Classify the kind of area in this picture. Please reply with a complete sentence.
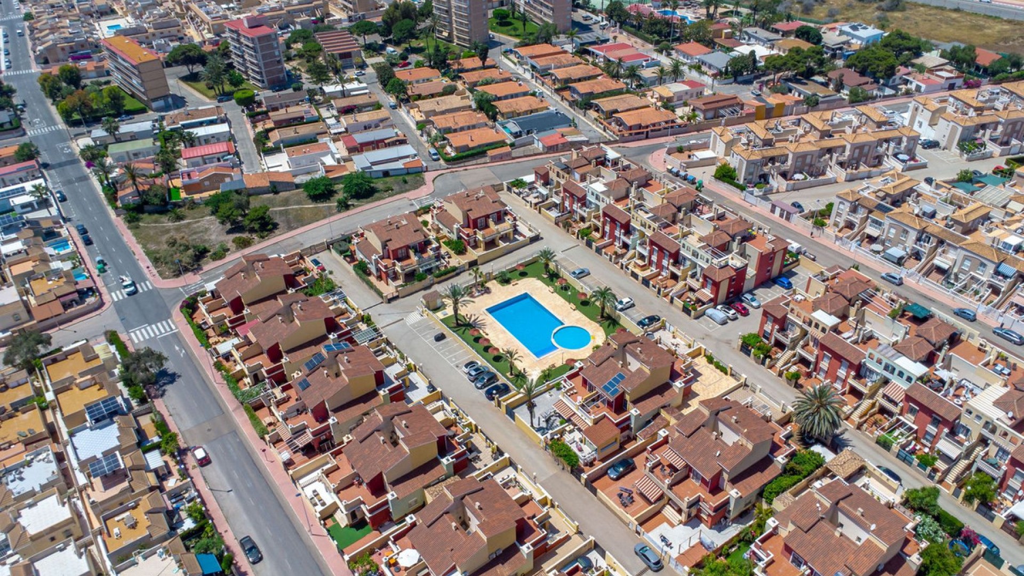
The area seen from above is a residential area.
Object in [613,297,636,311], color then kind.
white car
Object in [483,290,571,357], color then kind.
blue swimming pool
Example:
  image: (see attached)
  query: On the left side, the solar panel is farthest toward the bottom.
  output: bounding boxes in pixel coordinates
[90,453,121,477]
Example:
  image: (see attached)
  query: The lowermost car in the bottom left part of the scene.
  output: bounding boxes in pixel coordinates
[238,535,263,565]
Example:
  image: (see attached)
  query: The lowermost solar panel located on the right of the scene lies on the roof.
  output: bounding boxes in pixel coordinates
[602,372,628,395]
